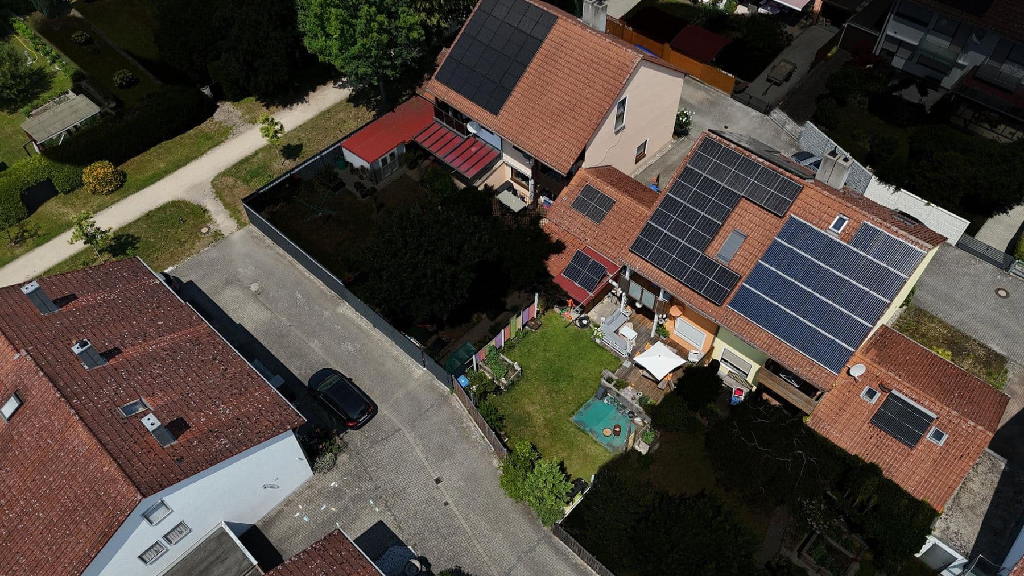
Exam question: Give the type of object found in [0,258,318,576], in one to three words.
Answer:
house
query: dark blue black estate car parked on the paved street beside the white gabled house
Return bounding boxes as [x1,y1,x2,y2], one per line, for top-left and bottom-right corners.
[300,361,372,430]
